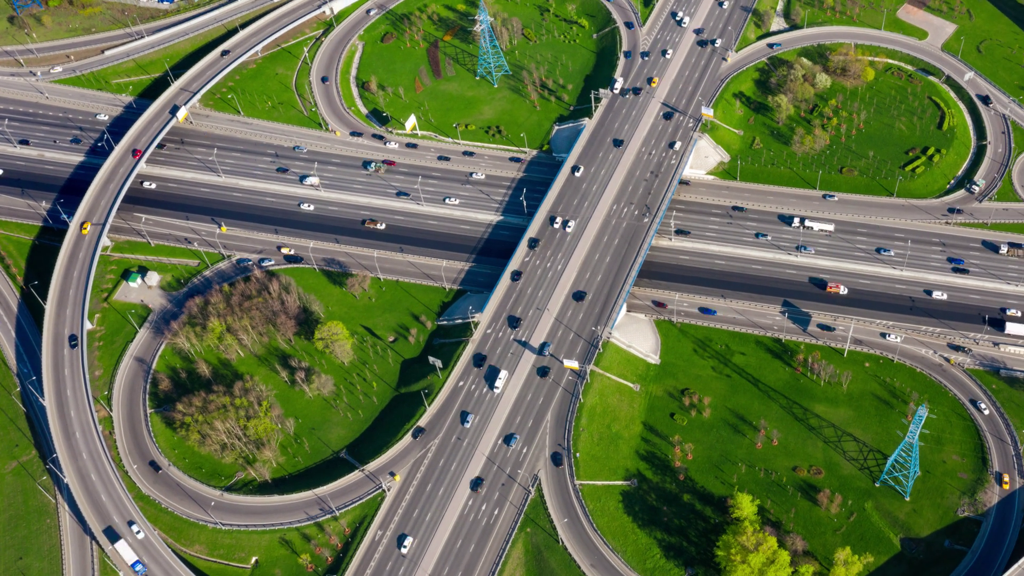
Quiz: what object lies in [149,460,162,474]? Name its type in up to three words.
vehicle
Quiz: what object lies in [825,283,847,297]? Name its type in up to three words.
vehicle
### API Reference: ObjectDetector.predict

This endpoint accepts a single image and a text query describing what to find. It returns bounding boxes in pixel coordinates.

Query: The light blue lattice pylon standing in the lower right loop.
[874,396,932,499]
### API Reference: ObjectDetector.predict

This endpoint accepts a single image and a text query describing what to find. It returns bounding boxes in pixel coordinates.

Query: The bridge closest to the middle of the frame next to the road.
[487,109,696,334]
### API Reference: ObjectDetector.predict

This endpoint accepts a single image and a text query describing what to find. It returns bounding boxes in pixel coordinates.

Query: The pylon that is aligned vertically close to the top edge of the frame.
[476,0,511,88]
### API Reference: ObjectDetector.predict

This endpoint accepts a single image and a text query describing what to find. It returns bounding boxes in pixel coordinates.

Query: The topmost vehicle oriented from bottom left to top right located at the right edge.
[965,178,986,198]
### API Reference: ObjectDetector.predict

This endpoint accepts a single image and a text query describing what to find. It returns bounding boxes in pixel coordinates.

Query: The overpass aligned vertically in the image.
[42,0,356,576]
